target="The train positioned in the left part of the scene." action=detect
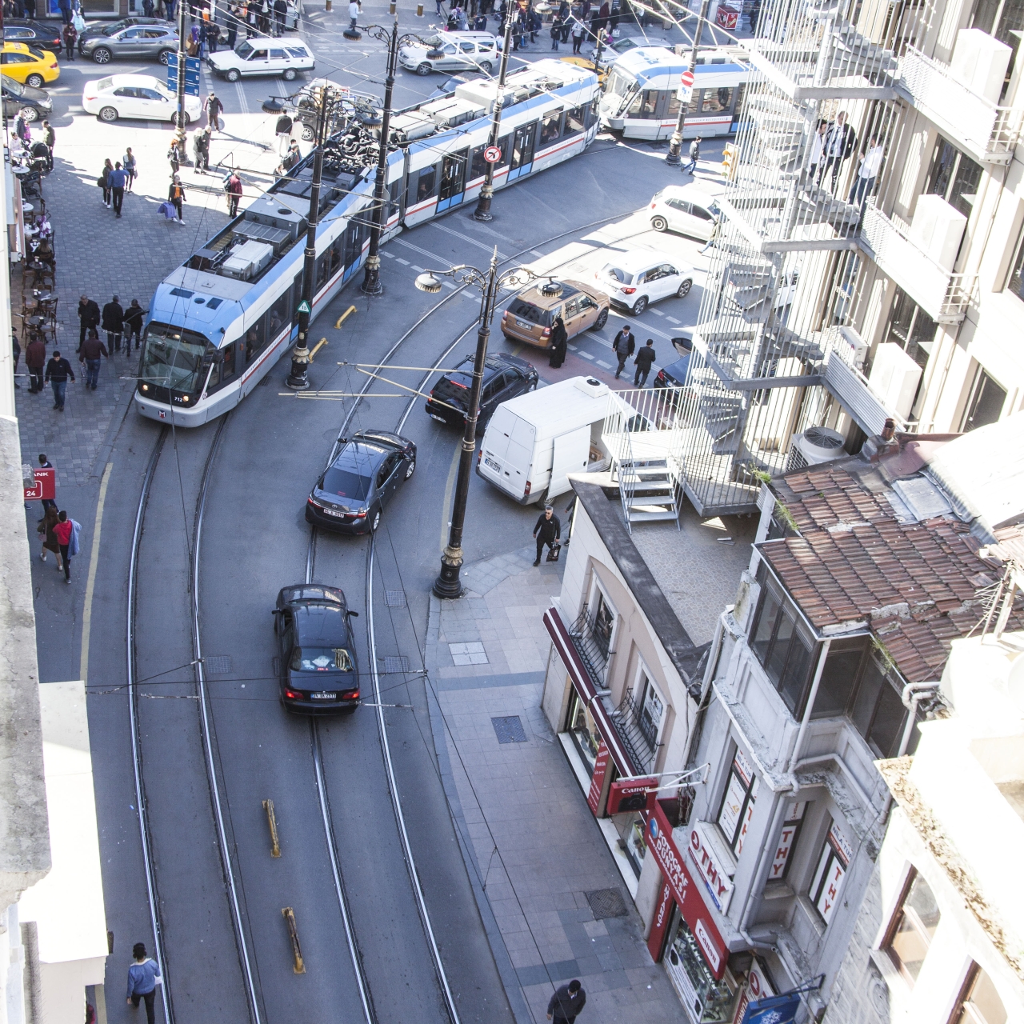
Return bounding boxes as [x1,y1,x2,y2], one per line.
[112,64,612,431]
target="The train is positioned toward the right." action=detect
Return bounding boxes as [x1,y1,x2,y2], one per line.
[599,46,820,136]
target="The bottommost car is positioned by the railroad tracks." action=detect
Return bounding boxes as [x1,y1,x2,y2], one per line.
[268,575,364,717]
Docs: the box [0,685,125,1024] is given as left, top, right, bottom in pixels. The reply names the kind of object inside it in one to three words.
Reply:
building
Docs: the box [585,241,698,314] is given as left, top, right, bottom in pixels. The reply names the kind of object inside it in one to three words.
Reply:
car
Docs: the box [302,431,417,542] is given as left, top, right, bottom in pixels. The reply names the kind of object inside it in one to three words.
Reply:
car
